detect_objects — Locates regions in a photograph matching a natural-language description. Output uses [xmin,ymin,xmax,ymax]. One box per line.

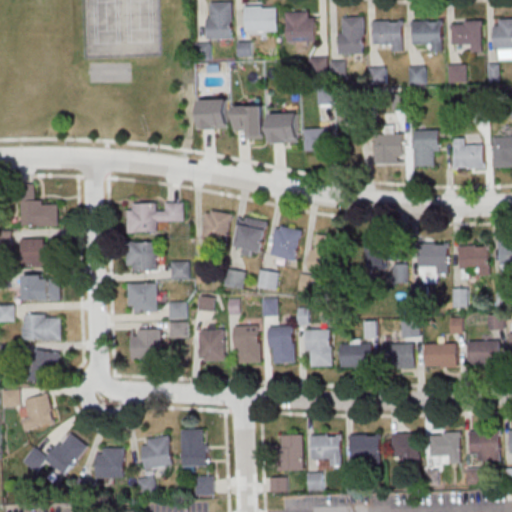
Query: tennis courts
[86,0,160,57]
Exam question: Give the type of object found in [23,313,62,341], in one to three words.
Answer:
house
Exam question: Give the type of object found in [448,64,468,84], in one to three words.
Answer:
building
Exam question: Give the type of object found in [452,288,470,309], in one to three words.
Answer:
building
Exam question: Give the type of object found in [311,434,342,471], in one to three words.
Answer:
house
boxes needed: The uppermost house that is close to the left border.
[20,184,58,228]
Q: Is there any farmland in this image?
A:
No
